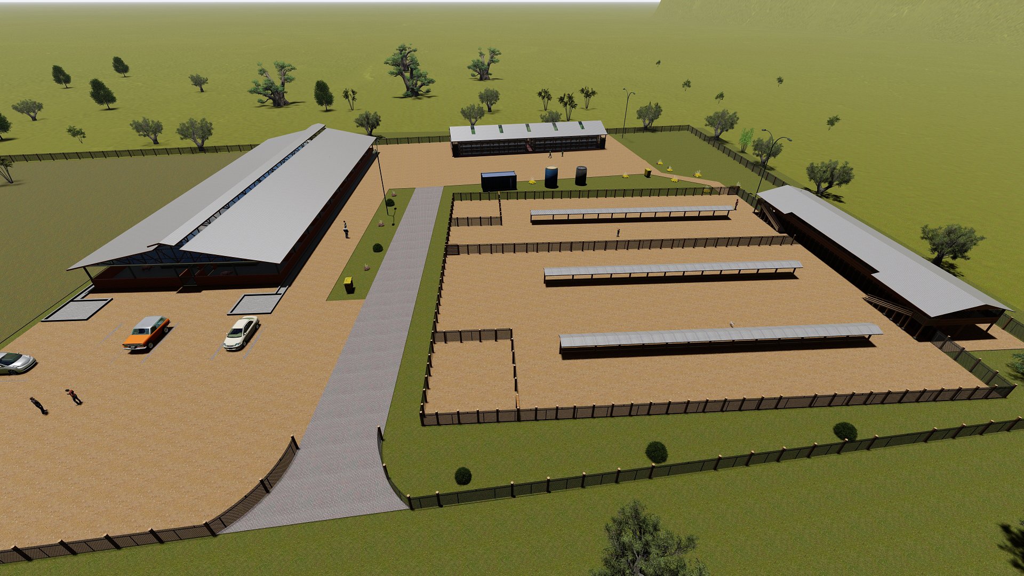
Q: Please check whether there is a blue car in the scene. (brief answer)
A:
No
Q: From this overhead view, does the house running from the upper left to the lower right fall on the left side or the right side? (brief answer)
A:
right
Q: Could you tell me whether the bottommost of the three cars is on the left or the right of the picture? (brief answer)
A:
left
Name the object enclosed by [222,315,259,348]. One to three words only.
car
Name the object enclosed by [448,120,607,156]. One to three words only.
shed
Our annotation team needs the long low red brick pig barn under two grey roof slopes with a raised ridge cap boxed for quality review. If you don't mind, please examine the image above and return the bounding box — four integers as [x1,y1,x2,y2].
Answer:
[67,122,376,287]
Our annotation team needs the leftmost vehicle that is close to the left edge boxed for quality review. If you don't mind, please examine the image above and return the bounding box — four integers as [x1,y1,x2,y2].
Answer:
[0,350,36,372]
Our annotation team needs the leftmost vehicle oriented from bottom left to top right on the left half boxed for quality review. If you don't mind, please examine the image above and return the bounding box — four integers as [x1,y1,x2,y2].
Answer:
[120,315,170,351]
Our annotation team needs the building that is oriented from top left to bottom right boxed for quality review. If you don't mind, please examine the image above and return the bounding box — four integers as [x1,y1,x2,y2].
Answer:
[753,185,1020,338]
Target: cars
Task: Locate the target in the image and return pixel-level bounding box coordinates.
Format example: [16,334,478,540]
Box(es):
[0,350,36,372]
[222,315,259,348]
[120,315,170,351]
